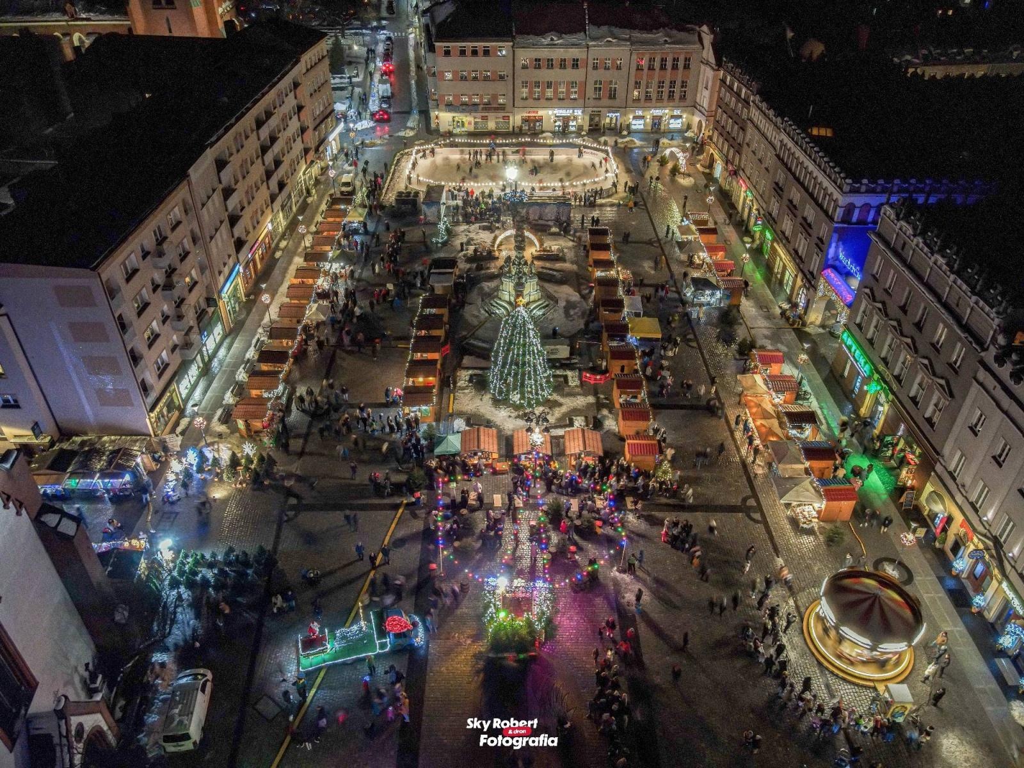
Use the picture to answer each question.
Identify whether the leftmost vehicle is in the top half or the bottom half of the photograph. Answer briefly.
bottom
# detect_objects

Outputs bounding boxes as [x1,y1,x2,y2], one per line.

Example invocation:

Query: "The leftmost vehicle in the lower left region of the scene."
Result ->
[161,661,218,744]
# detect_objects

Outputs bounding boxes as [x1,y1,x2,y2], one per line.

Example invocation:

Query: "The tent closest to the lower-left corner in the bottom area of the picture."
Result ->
[102,532,170,588]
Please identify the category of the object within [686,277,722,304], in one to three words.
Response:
tent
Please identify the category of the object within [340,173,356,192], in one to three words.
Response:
vehicle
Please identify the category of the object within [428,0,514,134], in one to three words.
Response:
house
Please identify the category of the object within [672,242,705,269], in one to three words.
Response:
tent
